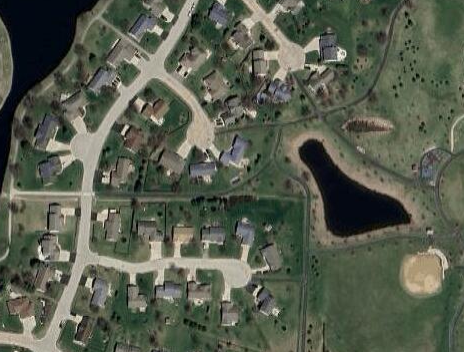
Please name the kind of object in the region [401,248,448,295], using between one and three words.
baseball field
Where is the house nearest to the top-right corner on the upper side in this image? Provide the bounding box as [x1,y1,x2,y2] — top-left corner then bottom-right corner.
[319,33,339,61]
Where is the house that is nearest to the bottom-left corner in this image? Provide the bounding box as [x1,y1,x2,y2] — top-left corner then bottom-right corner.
[7,295,35,321]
